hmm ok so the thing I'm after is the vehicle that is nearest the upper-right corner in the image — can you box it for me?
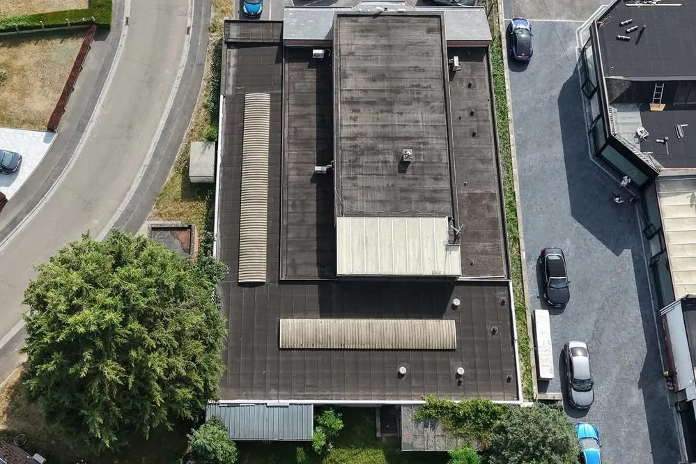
[509,19,534,61]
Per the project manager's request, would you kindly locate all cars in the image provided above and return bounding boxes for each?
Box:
[0,148,22,174]
[541,248,572,307]
[575,420,603,464]
[242,0,262,19]
[509,19,534,61]
[564,343,597,408]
